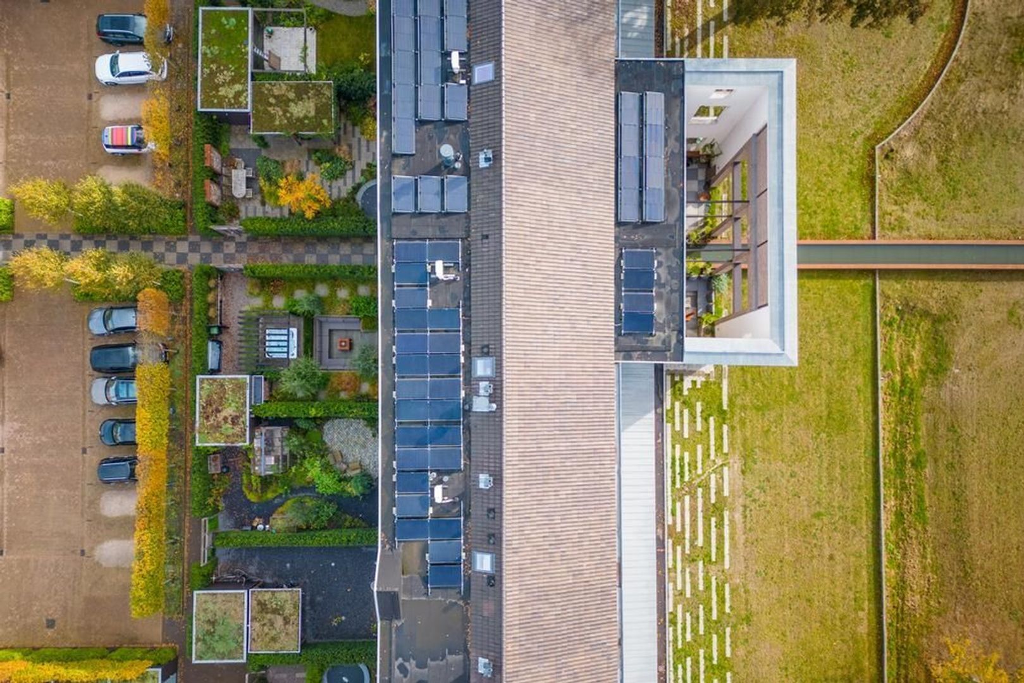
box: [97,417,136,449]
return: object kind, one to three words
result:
car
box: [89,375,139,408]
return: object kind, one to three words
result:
car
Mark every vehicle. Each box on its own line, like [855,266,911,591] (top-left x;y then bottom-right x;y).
[99,125,160,155]
[86,304,155,337]
[89,375,139,408]
[94,48,167,87]
[93,12,172,49]
[93,456,136,485]
[97,417,136,449]
[91,341,169,373]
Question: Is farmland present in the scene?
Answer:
No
